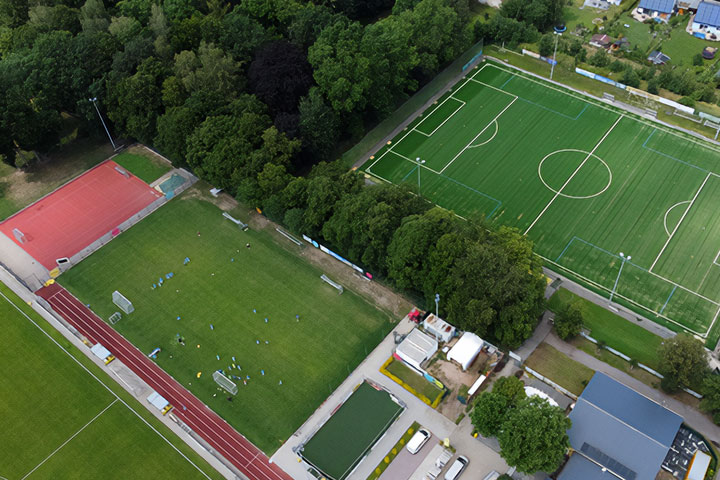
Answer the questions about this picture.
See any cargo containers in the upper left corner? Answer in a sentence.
No, no cargo container appears in the upper left corner.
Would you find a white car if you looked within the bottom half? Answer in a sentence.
Yes, a white car appears within the bottom half.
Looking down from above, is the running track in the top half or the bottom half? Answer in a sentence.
The bottom half of the photo is where the running track is.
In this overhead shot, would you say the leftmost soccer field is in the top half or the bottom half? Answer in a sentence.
It is in the bottom half that the leftmost soccer field appears.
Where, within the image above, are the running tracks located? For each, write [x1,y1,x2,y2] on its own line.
[35,283,295,480]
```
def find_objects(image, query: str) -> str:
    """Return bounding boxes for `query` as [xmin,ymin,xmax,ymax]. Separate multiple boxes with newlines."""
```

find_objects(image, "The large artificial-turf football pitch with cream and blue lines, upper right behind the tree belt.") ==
[356,59,720,354]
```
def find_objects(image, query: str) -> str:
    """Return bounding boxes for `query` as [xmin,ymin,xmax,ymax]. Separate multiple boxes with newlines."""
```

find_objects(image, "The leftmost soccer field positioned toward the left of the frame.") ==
[0,280,226,480]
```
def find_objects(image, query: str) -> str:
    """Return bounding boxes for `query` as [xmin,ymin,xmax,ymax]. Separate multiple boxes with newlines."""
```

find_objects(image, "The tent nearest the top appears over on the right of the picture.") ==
[445,332,485,373]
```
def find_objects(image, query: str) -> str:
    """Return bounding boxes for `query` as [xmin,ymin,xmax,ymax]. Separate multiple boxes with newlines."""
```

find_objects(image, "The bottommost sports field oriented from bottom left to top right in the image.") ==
[303,375,404,480]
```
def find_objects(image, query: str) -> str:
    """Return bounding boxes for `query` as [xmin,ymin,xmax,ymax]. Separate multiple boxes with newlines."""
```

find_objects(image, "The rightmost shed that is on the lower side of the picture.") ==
[682,450,713,480]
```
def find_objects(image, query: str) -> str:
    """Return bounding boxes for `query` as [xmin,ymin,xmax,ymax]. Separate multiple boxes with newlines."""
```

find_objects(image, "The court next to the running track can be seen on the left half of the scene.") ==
[0,157,165,271]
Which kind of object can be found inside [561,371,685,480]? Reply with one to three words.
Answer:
building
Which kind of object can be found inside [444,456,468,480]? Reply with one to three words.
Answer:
car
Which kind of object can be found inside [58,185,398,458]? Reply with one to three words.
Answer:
sports field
